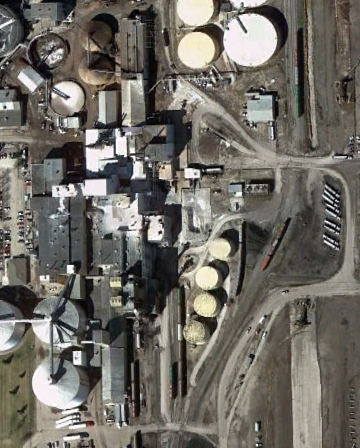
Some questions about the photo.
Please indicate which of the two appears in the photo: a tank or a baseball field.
tank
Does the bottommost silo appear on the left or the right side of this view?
left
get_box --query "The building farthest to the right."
[247,94,274,121]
